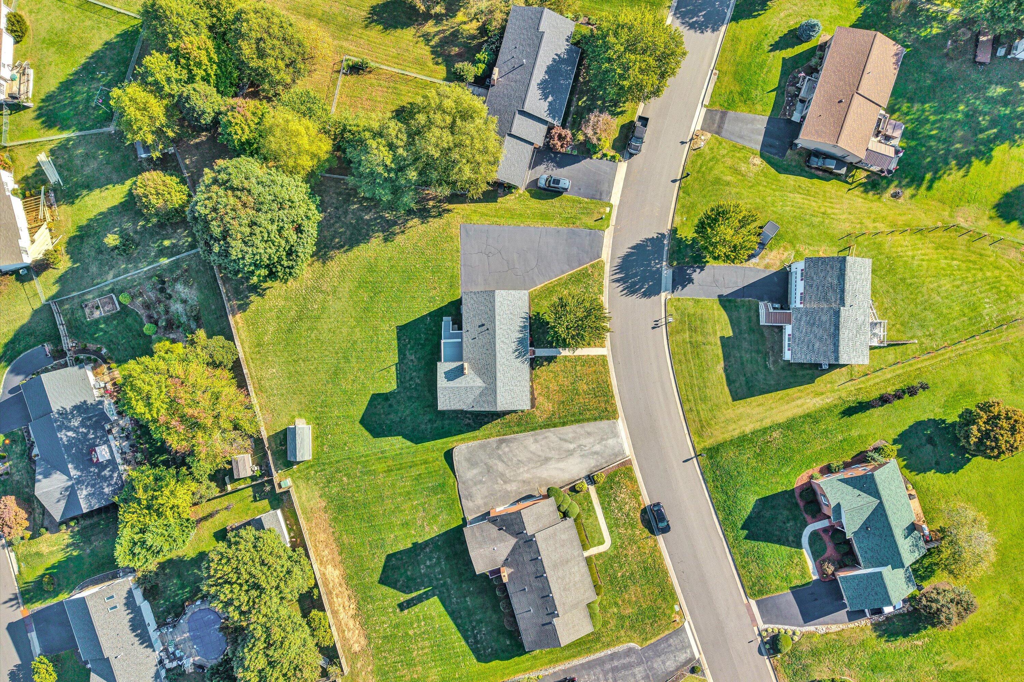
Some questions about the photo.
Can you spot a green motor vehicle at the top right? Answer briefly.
No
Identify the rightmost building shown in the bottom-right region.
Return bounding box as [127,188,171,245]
[808,458,930,611]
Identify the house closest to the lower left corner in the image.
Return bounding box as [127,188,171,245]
[63,577,181,682]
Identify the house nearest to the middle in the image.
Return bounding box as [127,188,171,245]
[437,290,531,411]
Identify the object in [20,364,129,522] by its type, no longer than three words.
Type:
house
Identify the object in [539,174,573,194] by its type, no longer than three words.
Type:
car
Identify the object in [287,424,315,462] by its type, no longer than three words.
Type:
shed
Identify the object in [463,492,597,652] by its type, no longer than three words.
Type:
house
